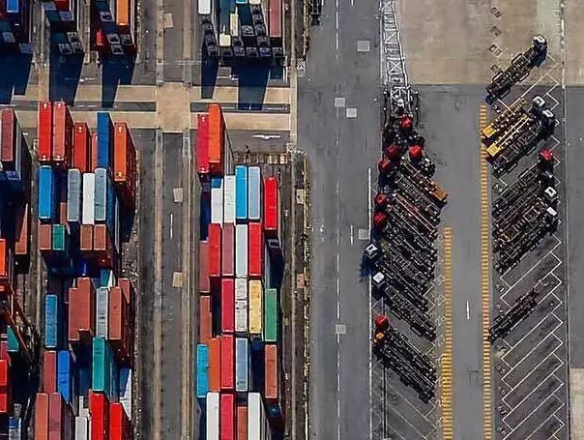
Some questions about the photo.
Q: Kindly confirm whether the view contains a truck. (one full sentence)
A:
Yes, the frame does contain a truck.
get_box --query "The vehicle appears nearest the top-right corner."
[493,35,548,95]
